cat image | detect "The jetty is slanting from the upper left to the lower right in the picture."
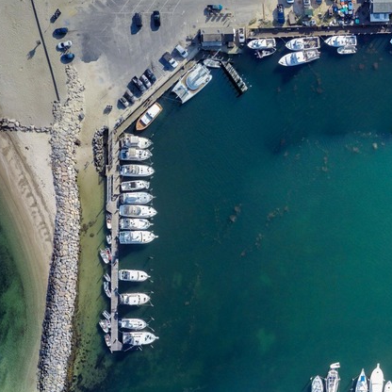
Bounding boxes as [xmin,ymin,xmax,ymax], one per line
[218,60,251,98]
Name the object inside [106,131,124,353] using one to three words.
pier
